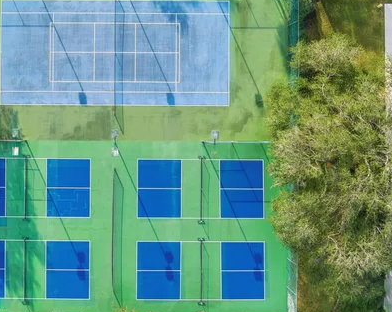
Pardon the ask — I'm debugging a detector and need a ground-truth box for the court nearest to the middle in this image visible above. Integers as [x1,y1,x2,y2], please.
[138,159,264,219]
